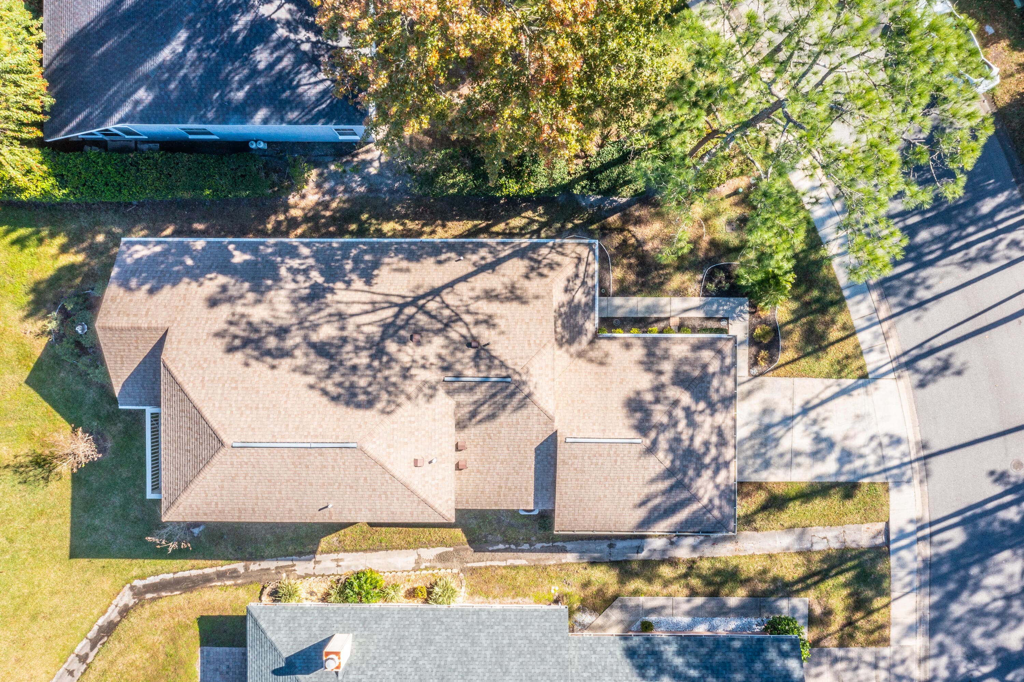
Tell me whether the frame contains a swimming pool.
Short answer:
No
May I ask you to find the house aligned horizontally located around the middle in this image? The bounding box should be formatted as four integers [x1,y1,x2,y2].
[95,236,739,535]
